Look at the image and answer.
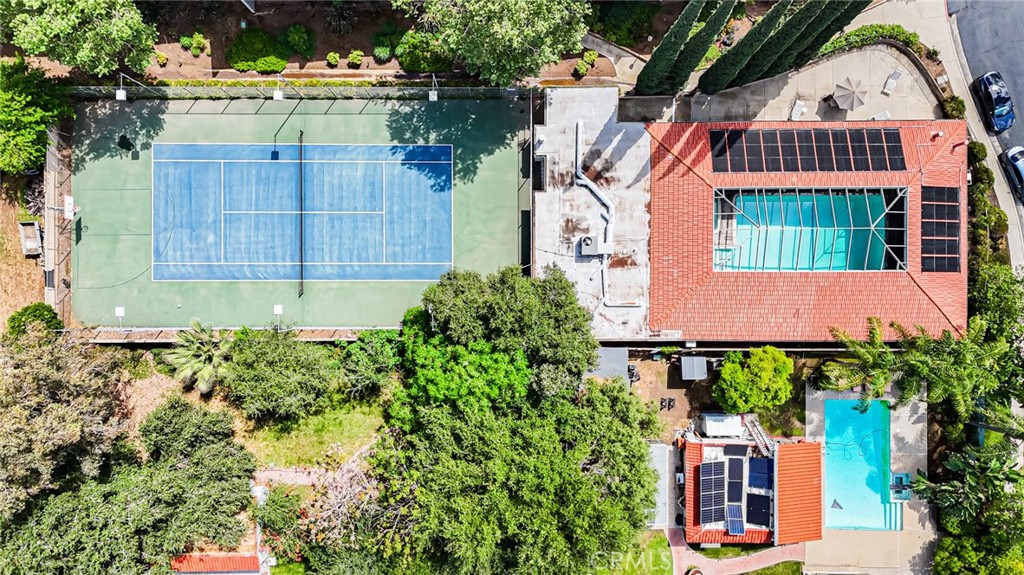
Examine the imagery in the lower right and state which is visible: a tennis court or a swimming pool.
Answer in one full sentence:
Looking in the lower right, you will find a swimming pool.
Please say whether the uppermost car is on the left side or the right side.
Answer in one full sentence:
You can find the uppermost car on the right side of the picture.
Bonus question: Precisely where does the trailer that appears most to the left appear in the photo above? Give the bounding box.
[11,211,44,255]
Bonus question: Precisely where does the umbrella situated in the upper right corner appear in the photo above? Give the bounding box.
[832,75,868,112]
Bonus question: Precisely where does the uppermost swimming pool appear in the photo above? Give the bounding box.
[715,192,887,270]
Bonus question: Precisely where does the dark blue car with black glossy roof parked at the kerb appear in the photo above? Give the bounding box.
[974,70,1017,131]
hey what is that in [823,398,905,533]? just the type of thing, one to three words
swimming pool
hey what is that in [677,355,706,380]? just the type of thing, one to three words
shed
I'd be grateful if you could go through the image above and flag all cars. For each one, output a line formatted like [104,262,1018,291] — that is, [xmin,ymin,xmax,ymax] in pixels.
[1002,146,1024,205]
[974,70,1017,131]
